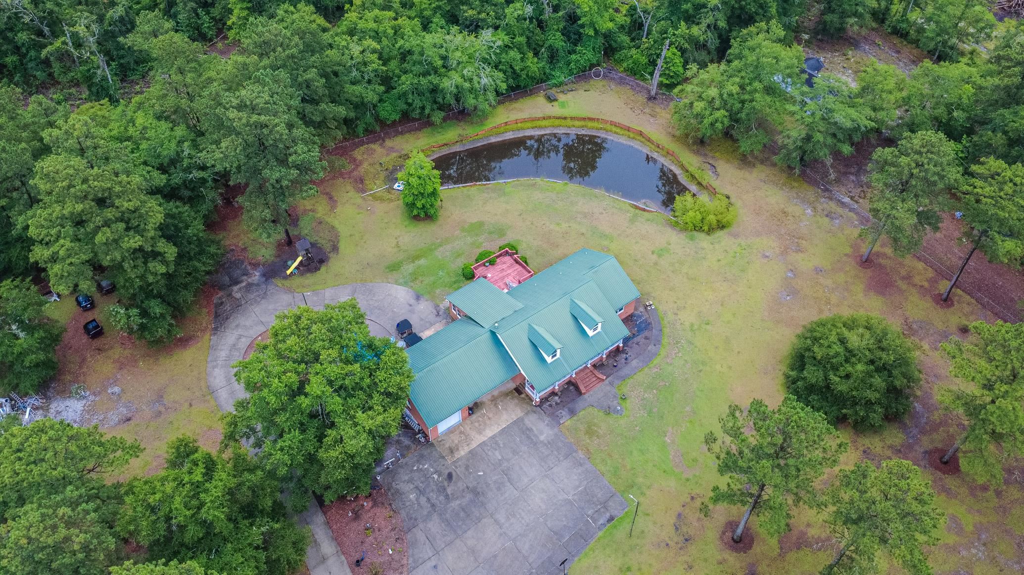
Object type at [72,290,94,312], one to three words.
car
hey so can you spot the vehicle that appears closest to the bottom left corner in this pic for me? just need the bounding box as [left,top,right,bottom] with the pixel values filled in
[79,317,103,340]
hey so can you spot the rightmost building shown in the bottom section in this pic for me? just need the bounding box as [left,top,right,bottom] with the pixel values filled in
[383,248,642,446]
